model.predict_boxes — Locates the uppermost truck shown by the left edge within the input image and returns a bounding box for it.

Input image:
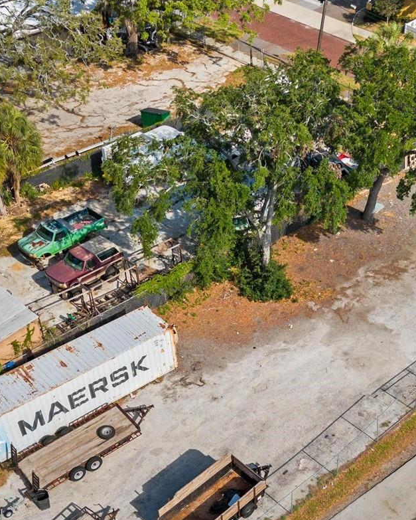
[20,209,107,267]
